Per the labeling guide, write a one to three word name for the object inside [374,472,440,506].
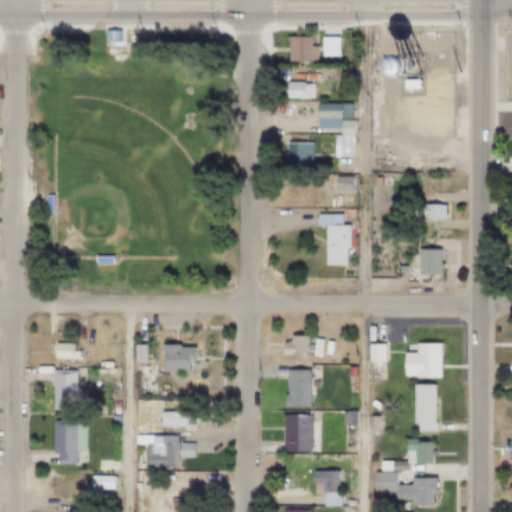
house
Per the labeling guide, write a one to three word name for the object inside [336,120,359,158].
building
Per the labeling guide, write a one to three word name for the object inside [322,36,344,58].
building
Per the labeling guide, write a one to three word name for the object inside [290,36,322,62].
house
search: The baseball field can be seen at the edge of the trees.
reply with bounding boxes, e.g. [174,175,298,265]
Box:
[58,92,218,257]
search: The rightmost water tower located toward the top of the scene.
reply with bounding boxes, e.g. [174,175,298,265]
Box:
[380,53,424,76]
